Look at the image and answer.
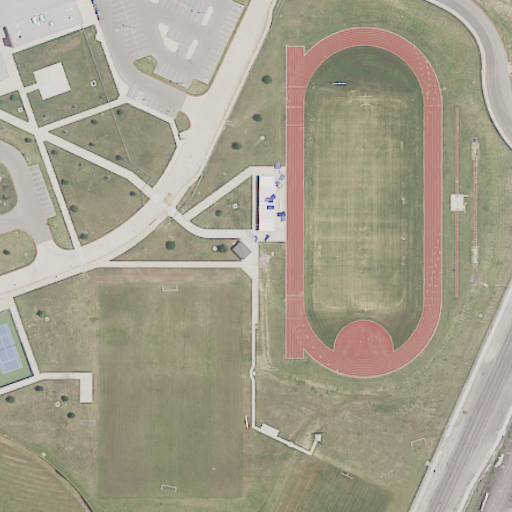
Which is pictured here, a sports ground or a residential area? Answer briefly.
sports ground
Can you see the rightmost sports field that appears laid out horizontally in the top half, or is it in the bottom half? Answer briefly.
bottom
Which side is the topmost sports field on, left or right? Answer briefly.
right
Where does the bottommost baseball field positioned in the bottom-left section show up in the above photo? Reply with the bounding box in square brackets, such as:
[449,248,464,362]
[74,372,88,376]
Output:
[0,436,90,512]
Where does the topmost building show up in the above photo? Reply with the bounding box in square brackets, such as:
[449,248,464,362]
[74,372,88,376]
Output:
[0,0,84,48]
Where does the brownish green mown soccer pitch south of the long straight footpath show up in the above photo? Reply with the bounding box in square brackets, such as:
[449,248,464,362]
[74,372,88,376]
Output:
[98,280,244,498]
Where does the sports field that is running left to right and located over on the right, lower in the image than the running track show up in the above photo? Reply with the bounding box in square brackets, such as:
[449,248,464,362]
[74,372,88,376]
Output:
[276,457,392,512]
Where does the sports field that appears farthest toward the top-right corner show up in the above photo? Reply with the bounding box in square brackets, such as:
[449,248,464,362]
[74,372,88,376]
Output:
[304,46,424,353]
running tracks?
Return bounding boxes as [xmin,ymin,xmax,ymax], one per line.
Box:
[286,28,442,378]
